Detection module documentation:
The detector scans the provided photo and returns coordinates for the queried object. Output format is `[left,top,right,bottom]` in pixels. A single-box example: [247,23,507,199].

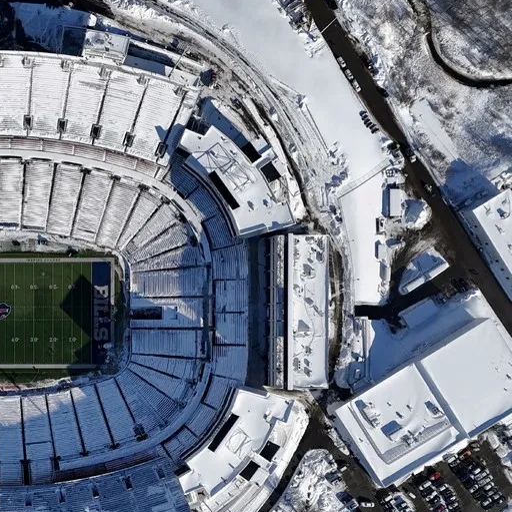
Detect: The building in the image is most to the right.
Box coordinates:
[458,183,512,282]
